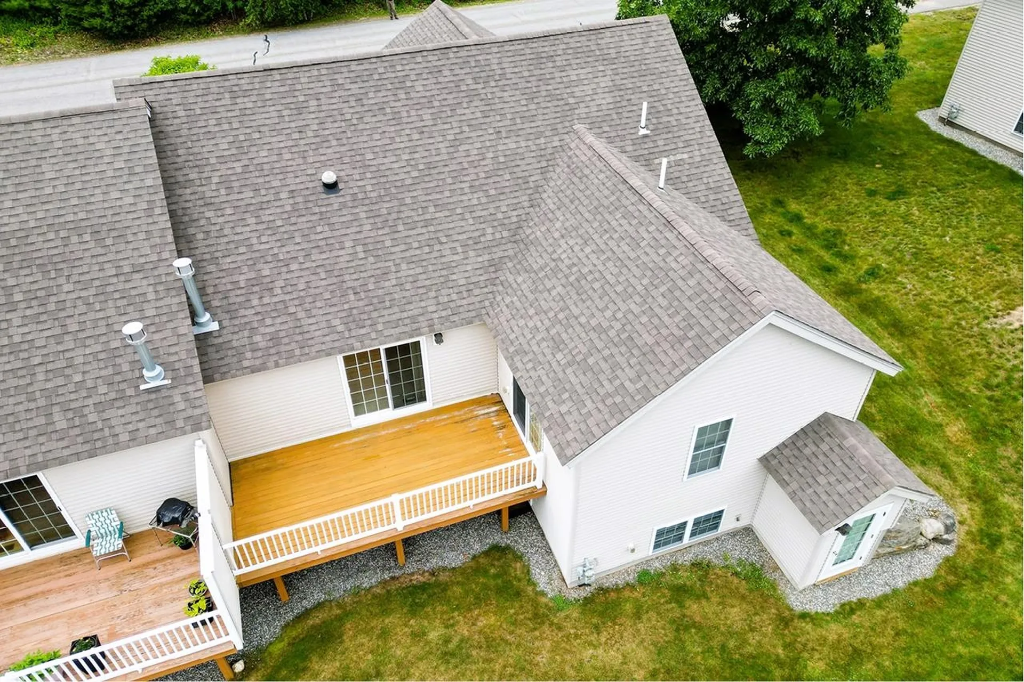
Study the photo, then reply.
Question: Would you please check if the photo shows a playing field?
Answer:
No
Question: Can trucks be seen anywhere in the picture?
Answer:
No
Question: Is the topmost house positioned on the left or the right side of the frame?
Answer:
right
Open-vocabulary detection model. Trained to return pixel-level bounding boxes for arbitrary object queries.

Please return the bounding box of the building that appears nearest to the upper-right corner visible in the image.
[942,0,1024,153]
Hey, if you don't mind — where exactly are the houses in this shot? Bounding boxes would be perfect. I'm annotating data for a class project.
[113,0,938,590]
[942,0,1024,153]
